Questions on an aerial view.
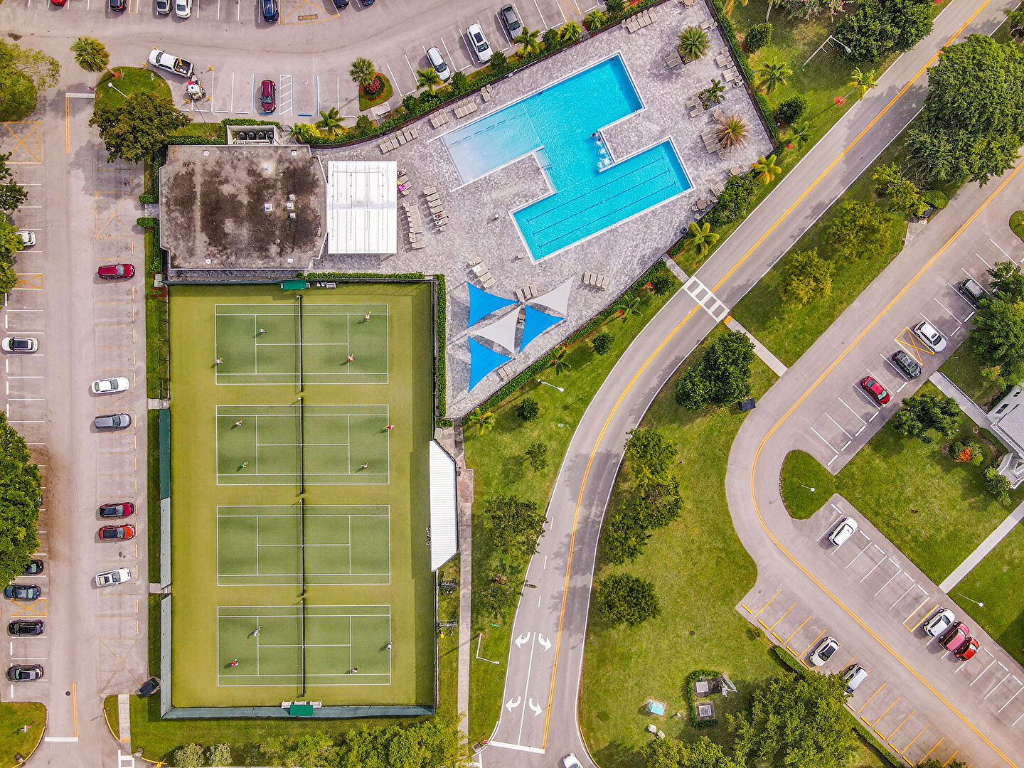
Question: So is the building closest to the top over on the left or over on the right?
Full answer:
The building closest to the top appears in the left half of the scene.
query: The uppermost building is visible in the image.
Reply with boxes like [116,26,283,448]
[159,145,328,271]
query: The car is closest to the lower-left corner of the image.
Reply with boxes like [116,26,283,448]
[6,664,45,683]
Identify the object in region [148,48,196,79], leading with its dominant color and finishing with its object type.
white truck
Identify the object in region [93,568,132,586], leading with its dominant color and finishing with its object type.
white vehicle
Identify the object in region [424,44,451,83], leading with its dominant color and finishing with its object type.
white car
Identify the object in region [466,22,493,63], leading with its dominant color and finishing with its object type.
white car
